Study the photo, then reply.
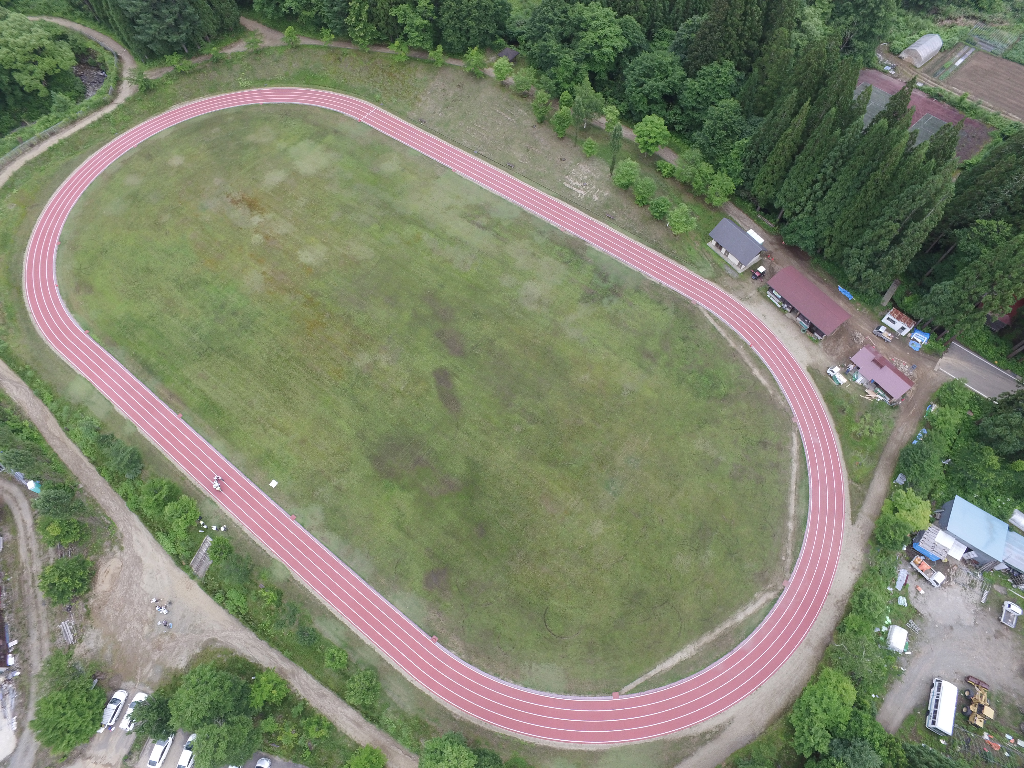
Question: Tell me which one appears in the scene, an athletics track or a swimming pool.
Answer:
athletics track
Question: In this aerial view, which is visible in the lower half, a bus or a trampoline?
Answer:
bus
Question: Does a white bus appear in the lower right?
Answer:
Yes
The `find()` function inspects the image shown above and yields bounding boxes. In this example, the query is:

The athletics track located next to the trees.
[25,88,845,743]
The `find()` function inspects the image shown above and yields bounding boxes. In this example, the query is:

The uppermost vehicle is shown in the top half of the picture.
[747,265,766,284]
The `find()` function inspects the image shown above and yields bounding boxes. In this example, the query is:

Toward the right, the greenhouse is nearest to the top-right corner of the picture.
[899,26,947,66]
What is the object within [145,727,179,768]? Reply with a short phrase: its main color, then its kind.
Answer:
white car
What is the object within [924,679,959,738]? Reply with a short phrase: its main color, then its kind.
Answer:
white bus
